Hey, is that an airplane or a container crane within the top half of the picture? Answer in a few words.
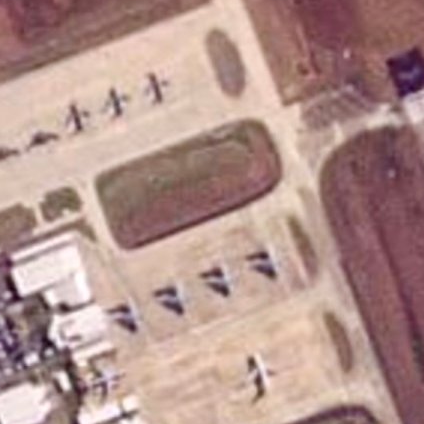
airplane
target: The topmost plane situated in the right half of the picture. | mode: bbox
[248,247,275,274]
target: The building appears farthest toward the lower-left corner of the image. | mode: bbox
[0,383,53,424]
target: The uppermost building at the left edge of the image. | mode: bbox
[11,233,78,264]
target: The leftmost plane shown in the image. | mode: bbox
[0,145,23,163]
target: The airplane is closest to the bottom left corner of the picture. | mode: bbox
[87,366,122,393]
